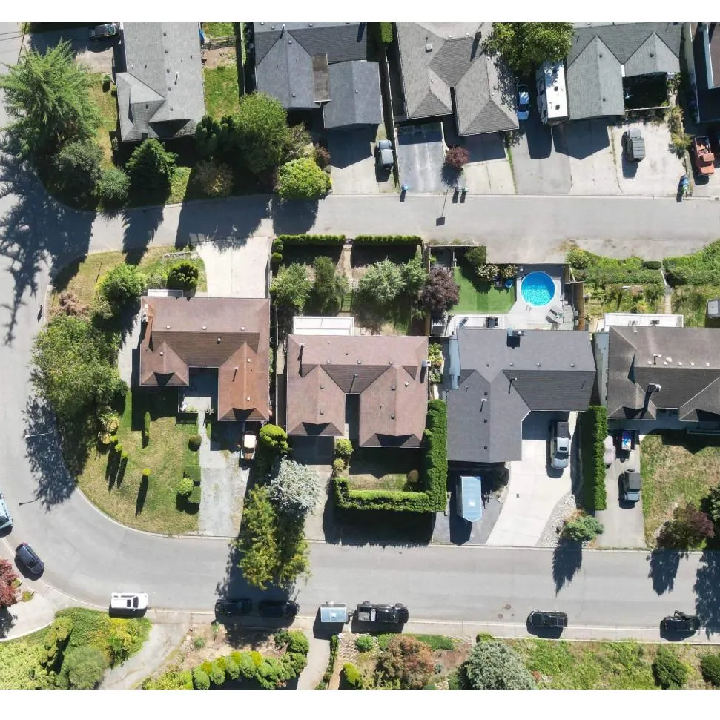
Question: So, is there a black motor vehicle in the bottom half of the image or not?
Yes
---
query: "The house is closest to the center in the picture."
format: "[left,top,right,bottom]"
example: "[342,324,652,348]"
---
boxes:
[286,317,430,449]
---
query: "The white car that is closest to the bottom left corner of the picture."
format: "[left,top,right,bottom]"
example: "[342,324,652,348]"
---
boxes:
[109,591,148,613]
